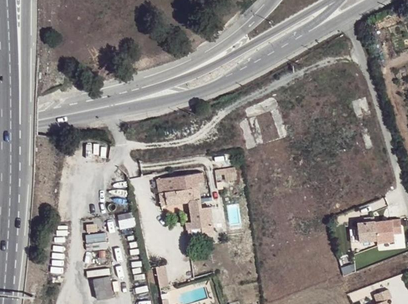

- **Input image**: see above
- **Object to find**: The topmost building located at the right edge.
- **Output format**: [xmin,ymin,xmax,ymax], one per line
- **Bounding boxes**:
[351,219,406,255]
